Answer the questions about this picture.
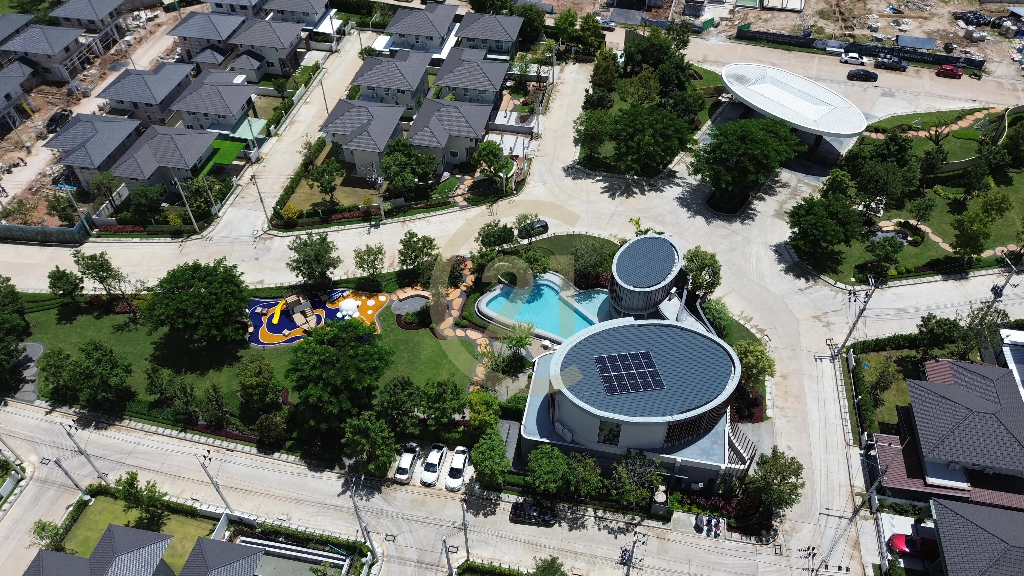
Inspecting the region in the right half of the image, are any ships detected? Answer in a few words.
No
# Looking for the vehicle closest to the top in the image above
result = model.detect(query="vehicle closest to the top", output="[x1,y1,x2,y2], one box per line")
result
[595,14,620,29]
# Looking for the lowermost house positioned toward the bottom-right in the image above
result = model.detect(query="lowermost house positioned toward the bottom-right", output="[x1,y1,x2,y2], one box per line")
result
[885,497,1024,576]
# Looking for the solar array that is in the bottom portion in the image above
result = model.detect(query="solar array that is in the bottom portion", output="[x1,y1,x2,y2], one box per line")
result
[593,351,666,394]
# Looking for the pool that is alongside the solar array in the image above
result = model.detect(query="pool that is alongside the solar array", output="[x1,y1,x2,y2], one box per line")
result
[474,271,611,351]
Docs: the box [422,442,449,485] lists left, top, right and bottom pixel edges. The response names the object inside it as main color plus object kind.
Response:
white car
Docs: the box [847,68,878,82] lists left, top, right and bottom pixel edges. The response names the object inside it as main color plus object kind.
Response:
black car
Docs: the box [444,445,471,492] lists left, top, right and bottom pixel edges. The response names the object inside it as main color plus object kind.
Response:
white car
